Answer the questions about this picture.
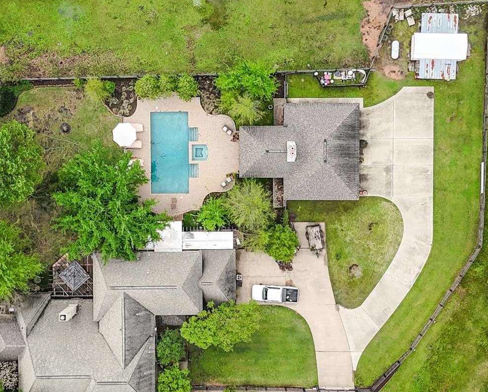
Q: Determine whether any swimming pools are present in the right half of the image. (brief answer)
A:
No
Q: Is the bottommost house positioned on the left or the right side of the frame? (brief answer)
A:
left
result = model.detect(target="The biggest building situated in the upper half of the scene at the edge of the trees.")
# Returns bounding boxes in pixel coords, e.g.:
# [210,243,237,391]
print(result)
[238,102,360,201]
